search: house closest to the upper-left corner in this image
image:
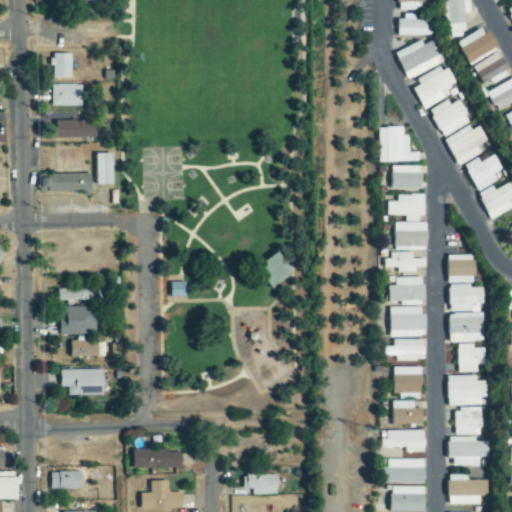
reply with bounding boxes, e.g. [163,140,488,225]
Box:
[52,52,73,78]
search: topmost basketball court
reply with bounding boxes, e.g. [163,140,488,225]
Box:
[143,147,183,176]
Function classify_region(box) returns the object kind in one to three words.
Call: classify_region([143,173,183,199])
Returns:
basketball court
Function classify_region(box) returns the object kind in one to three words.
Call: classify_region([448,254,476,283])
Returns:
house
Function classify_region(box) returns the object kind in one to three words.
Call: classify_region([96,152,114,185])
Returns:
barn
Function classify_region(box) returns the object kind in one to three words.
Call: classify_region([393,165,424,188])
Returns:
house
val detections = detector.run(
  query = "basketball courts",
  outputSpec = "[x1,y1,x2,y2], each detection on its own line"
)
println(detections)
[143,173,183,199]
[143,147,183,176]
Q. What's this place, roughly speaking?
residential area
